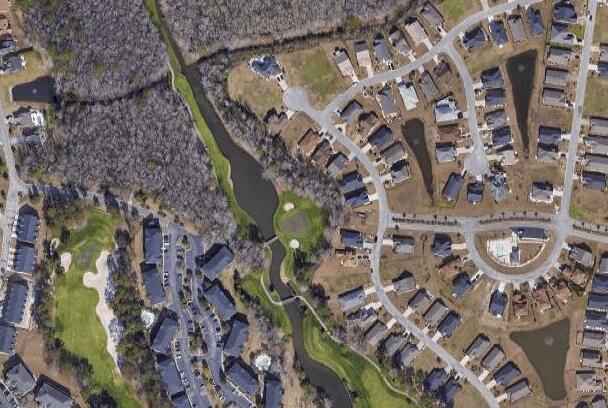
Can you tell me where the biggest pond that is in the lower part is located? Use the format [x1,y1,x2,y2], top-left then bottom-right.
[510,316,569,399]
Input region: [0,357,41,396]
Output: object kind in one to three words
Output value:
building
